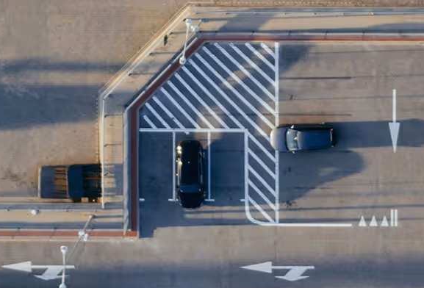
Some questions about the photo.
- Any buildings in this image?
No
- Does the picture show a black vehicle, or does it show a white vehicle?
black vehicle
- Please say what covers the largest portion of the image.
paved ground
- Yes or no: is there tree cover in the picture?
No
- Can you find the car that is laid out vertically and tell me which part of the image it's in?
center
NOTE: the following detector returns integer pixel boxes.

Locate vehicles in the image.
[272,124,337,156]
[175,138,208,208]
[37,163,105,203]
